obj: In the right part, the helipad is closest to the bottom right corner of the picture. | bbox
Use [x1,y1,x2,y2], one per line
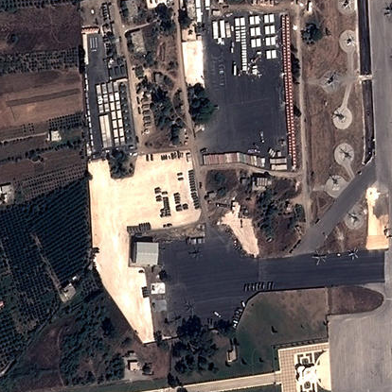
[345,207,363,228]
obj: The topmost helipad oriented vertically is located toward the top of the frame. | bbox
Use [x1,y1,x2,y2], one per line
[340,32,356,74]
